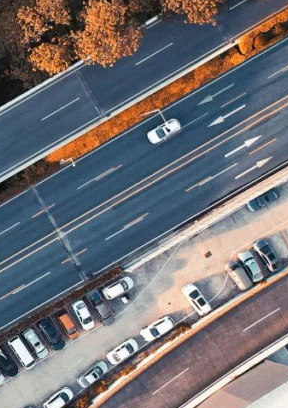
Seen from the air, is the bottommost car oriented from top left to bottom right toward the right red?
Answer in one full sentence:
No, the color of the bottommost car oriented from top left to bottom right toward the right is white.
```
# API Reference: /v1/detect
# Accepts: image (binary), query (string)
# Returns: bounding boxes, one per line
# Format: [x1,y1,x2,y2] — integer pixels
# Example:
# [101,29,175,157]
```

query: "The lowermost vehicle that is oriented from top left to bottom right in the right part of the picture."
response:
[181,283,209,316]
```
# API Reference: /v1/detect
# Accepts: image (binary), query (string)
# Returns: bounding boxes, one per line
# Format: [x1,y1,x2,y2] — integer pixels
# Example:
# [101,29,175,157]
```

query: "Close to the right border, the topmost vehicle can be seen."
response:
[244,188,278,213]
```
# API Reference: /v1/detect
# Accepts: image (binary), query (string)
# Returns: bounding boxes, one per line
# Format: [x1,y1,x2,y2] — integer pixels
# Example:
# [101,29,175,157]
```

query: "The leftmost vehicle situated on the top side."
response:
[145,118,180,144]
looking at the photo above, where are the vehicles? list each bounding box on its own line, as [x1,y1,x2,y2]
[222,259,252,292]
[74,361,107,388]
[37,316,64,349]
[69,297,95,331]
[55,308,79,339]
[145,118,180,144]
[105,338,138,364]
[181,283,209,316]
[244,188,278,213]
[250,238,279,271]
[235,249,263,283]
[138,314,172,340]
[87,289,115,324]
[99,275,133,300]
[22,326,48,359]
[0,344,18,378]
[41,386,73,408]
[4,330,34,370]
